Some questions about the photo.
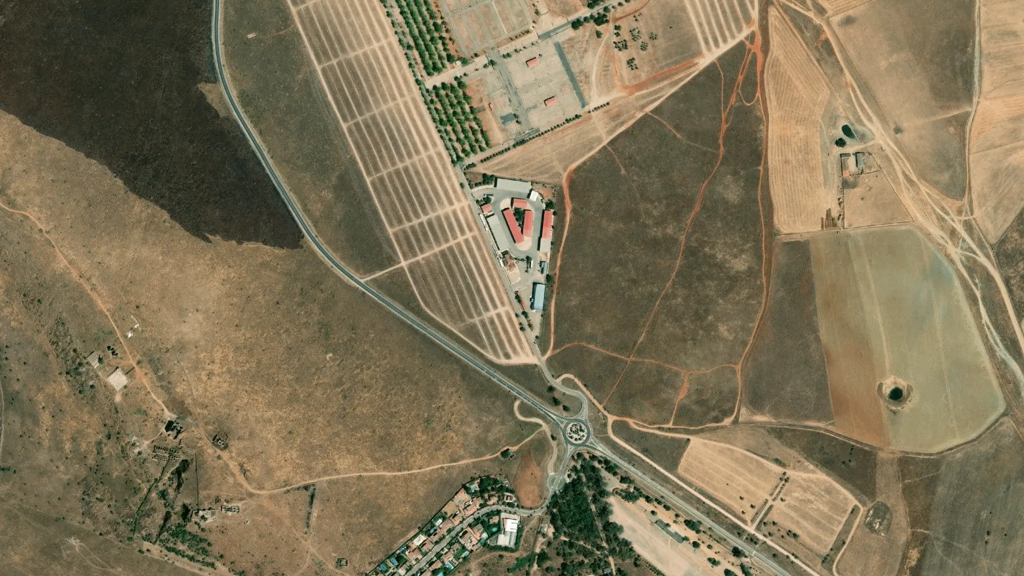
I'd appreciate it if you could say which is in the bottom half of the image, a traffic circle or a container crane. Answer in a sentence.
The feature located in the bottom half of the image is a traffic circle.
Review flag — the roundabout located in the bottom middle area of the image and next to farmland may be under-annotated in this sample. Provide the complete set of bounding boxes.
[541,398,609,468]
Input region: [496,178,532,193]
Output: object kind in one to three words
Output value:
building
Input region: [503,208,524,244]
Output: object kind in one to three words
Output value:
building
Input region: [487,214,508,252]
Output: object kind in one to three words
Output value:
shed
